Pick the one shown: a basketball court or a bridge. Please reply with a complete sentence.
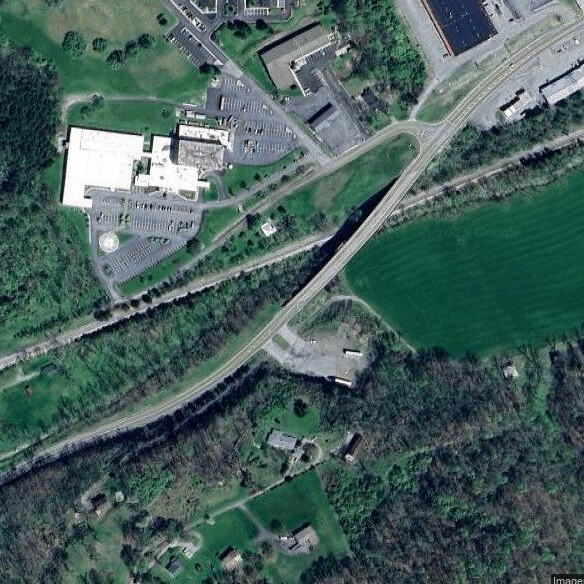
Visible in the photo is a bridge.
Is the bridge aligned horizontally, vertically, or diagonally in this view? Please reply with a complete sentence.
Seen from above, the bridge lies diagonally.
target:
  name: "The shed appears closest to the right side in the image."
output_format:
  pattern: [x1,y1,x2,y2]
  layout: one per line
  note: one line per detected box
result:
[542,63,584,105]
